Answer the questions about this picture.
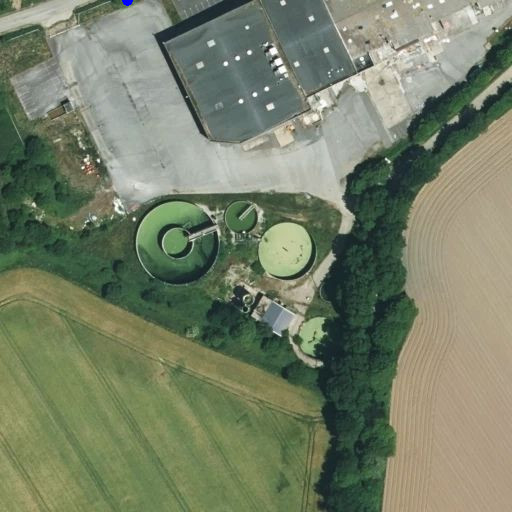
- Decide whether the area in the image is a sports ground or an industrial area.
industrial area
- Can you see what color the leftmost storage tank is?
green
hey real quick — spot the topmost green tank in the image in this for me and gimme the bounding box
[224,200,257,232]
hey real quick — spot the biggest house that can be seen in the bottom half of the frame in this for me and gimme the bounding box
[260,300,297,338]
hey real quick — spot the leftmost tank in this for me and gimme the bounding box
[136,201,221,285]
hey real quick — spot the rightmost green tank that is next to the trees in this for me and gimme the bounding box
[299,317,338,356]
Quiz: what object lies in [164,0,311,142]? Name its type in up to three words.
building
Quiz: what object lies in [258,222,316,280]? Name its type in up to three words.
storage tank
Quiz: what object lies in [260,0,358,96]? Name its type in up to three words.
building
